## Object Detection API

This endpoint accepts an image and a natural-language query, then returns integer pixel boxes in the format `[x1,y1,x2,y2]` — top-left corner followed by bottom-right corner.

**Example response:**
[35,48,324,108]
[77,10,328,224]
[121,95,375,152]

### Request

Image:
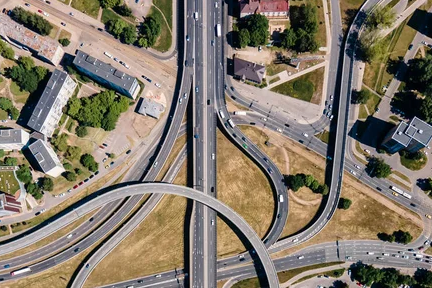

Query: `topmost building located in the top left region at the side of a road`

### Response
[0,15,64,68]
